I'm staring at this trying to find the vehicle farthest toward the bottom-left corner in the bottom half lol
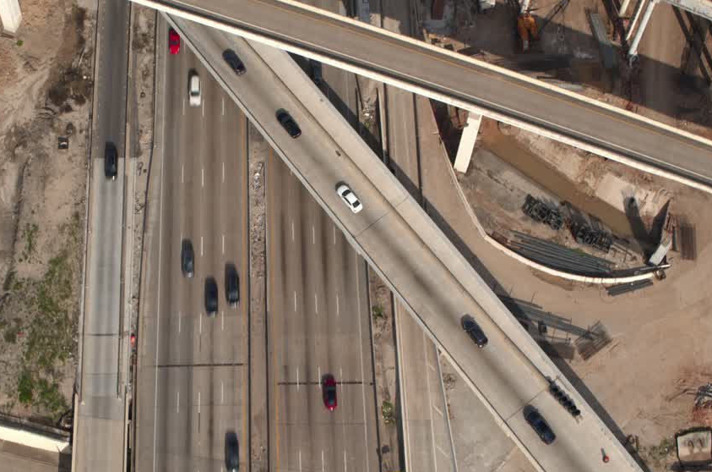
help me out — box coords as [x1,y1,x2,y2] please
[224,435,241,471]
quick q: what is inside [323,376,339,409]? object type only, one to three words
car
